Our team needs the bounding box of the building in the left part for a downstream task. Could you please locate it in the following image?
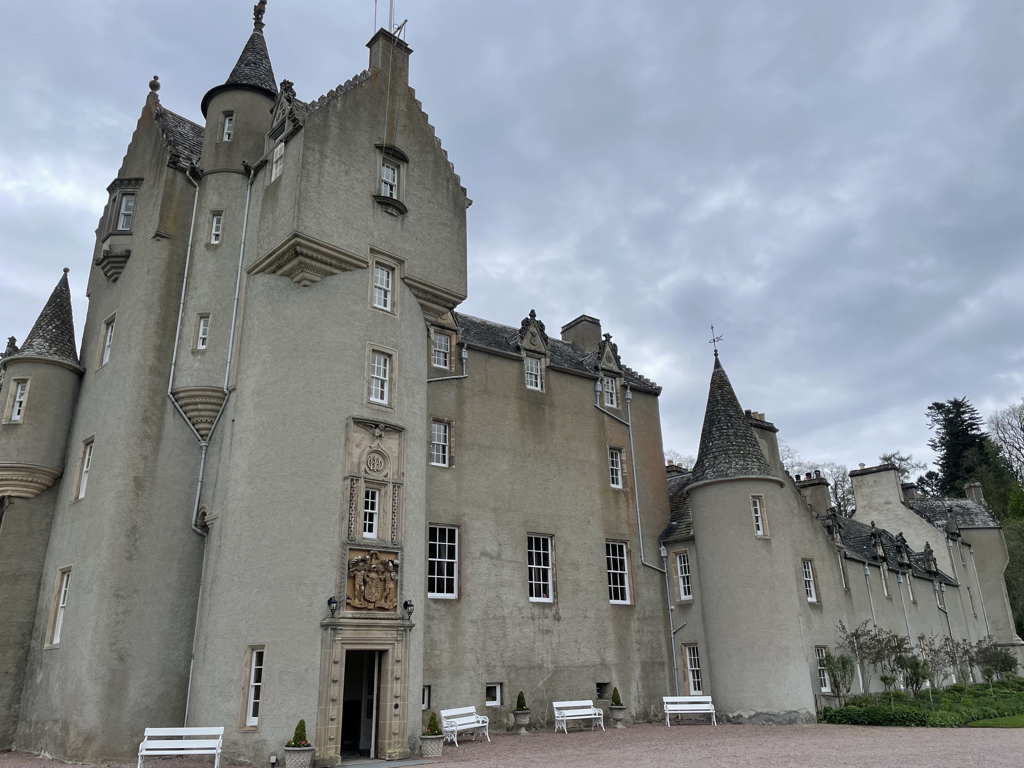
[0,0,689,768]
